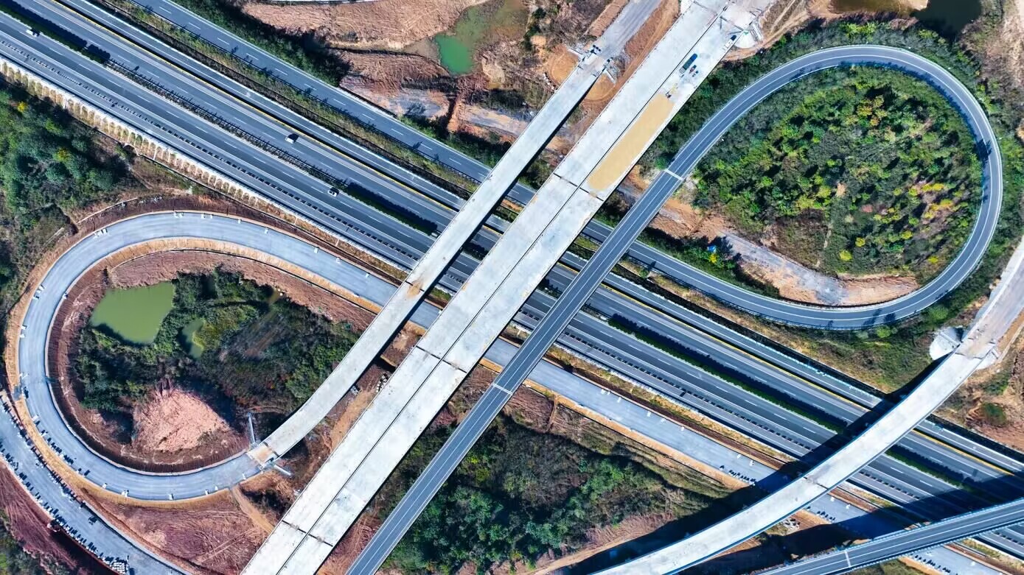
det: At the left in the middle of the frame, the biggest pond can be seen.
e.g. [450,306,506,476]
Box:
[89,282,176,345]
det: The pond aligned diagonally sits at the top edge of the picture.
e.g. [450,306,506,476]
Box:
[433,0,529,76]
